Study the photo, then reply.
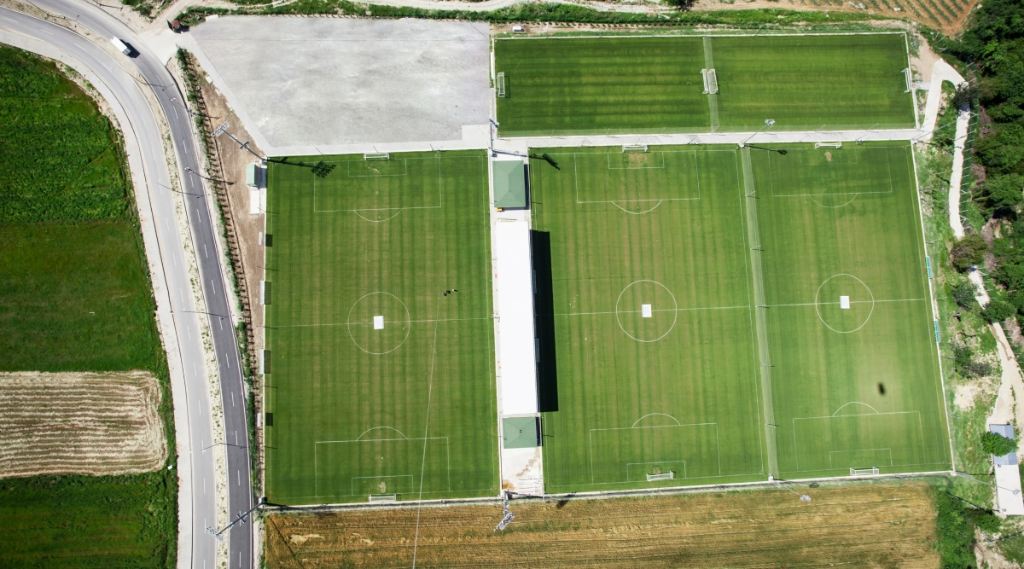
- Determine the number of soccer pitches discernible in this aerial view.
4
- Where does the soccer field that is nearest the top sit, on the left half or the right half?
right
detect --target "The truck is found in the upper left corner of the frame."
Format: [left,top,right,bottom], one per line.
[110,36,138,60]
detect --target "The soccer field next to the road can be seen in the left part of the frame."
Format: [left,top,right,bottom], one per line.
[261,148,503,508]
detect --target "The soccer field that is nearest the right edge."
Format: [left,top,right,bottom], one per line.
[741,139,955,482]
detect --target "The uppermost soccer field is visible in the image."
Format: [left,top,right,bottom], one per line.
[492,31,919,140]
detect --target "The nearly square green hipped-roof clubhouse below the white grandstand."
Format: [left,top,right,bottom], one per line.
[503,417,537,449]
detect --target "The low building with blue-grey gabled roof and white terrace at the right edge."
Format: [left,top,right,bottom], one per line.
[985,424,1024,514]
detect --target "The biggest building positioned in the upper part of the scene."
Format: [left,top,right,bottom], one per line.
[492,160,526,207]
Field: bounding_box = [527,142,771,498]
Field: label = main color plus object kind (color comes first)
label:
green soccer field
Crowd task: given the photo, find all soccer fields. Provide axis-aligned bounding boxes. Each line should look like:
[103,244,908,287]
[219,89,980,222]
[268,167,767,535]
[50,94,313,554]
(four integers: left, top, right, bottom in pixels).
[261,148,503,508]
[527,142,771,498]
[492,31,919,140]
[741,139,955,482]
